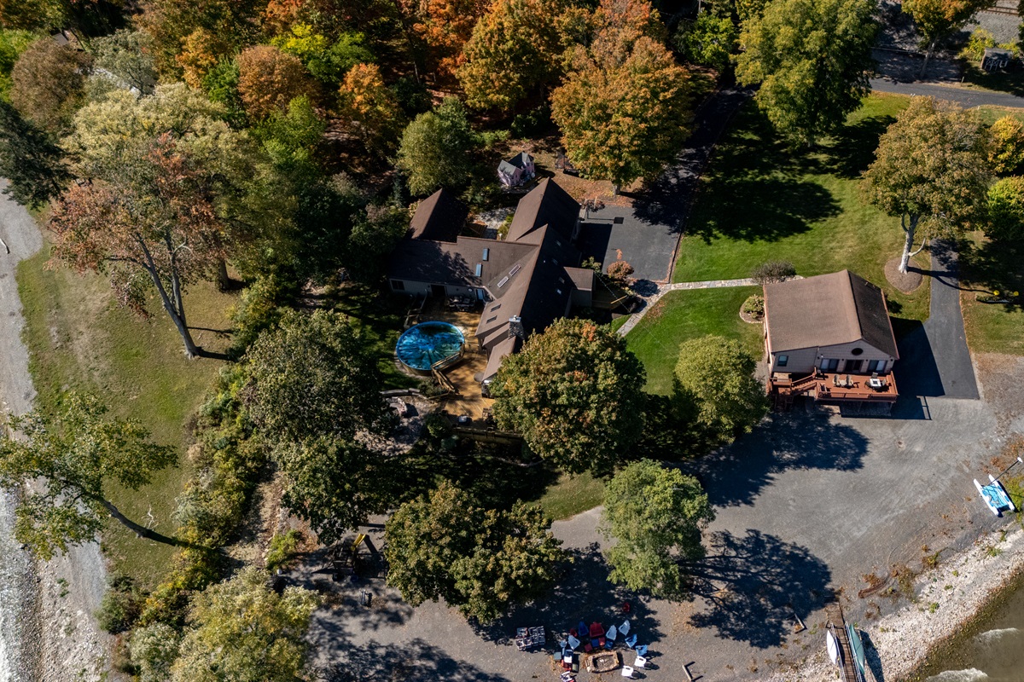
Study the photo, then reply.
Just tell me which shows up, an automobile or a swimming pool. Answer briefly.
swimming pool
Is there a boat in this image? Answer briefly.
Yes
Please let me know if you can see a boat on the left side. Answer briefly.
No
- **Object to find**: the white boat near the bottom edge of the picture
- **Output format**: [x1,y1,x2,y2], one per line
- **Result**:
[826,631,839,665]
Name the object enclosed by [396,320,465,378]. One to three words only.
swimming pool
